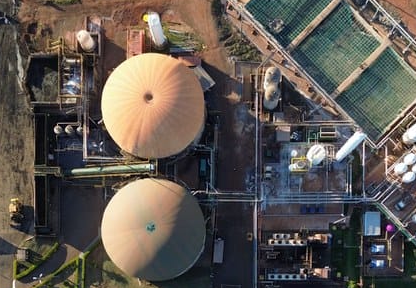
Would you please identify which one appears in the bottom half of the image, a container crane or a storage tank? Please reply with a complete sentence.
There is a storage tank in the bottom half of the image.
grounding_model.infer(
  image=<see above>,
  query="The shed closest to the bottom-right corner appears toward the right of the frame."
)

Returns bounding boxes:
[361,212,380,236]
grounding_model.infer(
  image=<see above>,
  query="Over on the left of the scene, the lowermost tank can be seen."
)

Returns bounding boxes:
[99,176,207,283]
